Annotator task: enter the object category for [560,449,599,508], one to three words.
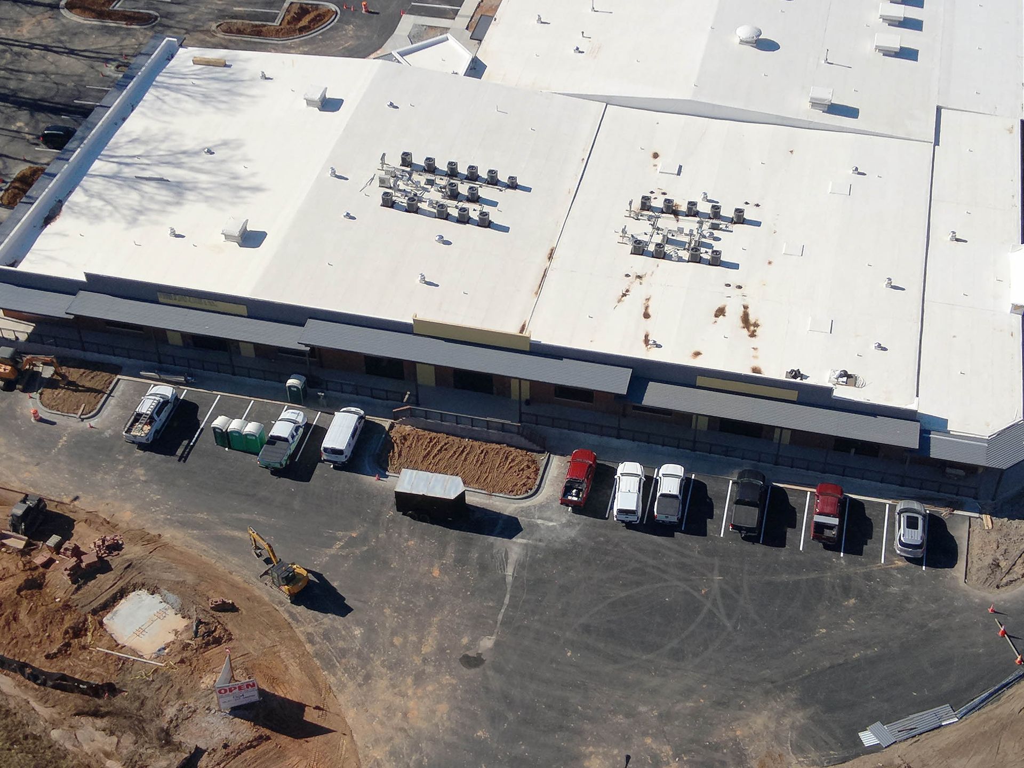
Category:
truck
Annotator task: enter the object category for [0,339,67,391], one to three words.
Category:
work vehicle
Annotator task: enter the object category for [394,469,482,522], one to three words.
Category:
trailer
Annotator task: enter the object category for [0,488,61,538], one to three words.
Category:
work vehicle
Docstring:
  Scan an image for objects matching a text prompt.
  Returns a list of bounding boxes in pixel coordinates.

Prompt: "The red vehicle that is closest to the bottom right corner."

[811,482,848,548]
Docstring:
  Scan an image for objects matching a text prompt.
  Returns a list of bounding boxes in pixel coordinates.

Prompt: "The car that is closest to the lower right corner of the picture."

[892,500,933,560]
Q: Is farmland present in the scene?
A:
No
